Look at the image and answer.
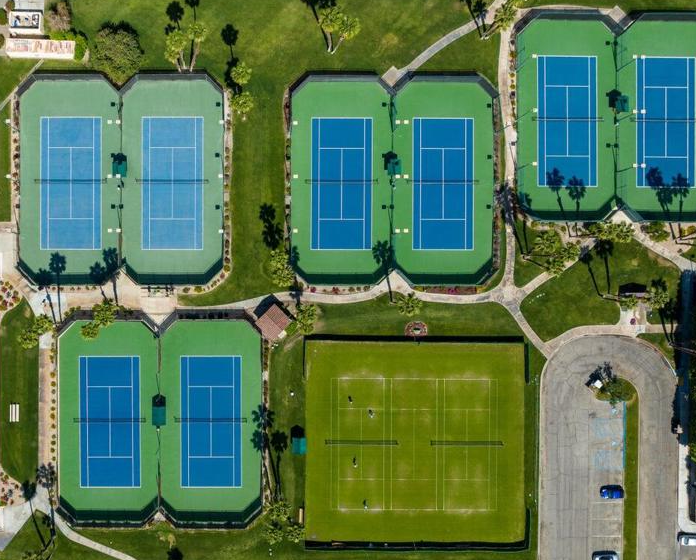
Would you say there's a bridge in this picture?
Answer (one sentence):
No, there's no bridge here.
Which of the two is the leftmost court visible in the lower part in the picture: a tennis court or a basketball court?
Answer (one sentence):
From above, the leftmost court visible in the lower part can be identified as a tennis court.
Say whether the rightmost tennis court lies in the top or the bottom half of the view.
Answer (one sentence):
The top half of the photo is where the rightmost tennis court is.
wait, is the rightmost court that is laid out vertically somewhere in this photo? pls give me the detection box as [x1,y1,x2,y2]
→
[616,20,696,221]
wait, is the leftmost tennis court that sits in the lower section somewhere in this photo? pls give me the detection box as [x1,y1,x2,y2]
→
[58,321,159,523]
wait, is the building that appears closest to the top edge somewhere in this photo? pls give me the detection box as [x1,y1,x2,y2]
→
[9,10,46,39]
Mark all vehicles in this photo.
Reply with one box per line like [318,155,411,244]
[681,535,696,547]
[601,487,625,500]
[593,553,620,560]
